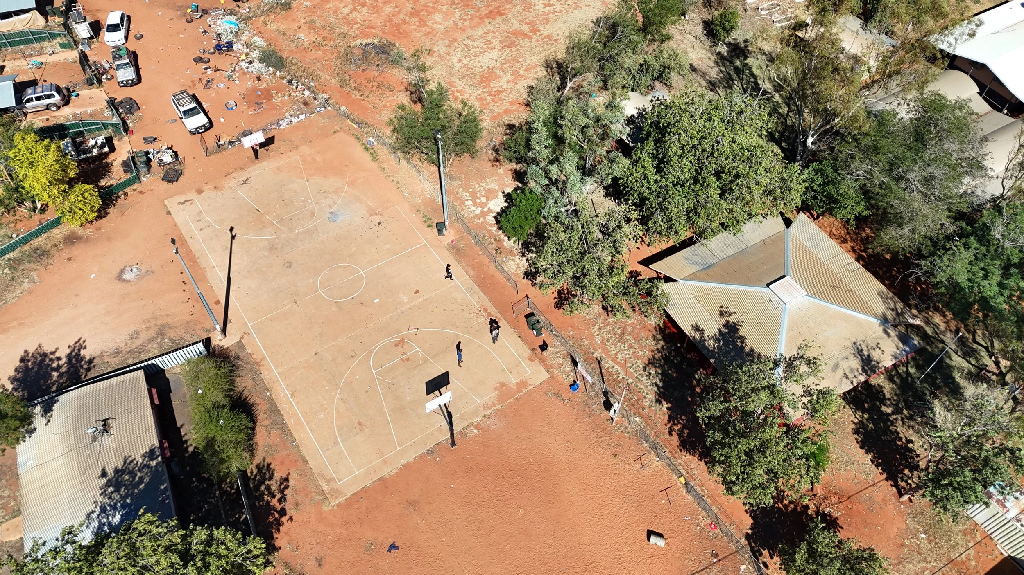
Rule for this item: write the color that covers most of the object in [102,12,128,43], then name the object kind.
white car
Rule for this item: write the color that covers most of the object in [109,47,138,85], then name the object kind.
white truck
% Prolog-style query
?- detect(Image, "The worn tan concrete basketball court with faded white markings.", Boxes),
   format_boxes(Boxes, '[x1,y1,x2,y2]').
[165,132,553,505]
